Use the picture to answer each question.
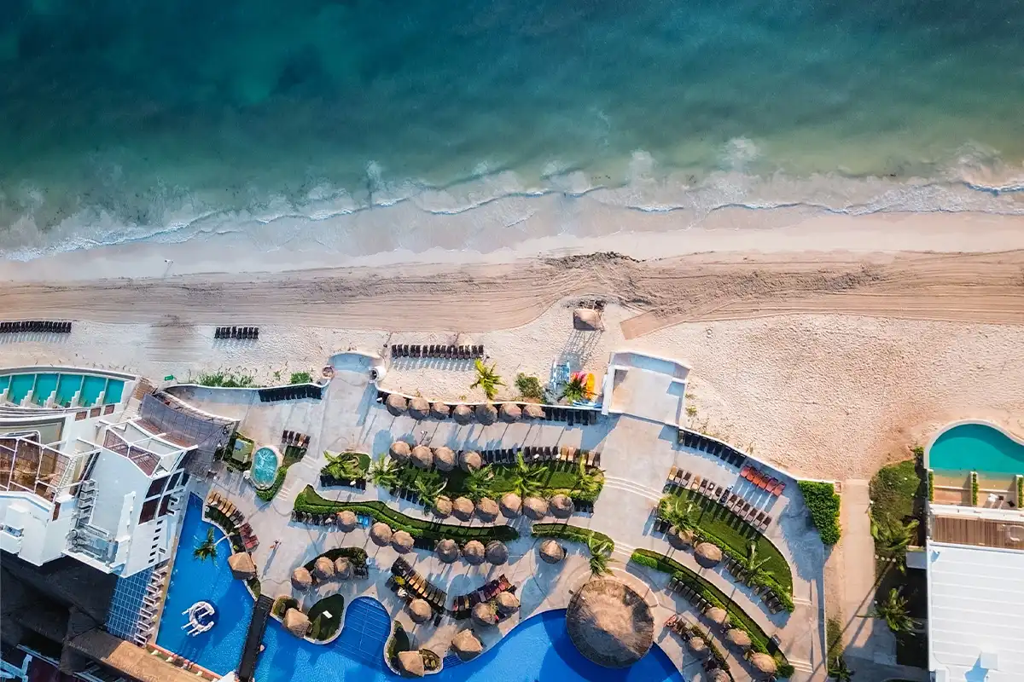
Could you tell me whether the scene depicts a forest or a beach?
beach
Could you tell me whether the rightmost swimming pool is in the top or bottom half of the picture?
bottom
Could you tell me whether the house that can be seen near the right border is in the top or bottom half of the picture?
bottom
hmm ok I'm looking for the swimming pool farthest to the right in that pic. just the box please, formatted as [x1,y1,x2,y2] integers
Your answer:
[924,419,1024,507]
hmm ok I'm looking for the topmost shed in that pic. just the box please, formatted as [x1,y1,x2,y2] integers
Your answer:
[573,303,603,331]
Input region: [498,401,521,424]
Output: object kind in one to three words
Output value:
umbrella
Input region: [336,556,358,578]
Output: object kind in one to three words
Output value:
umbrella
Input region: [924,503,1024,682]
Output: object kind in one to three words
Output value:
house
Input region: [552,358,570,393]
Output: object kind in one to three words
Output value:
boat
